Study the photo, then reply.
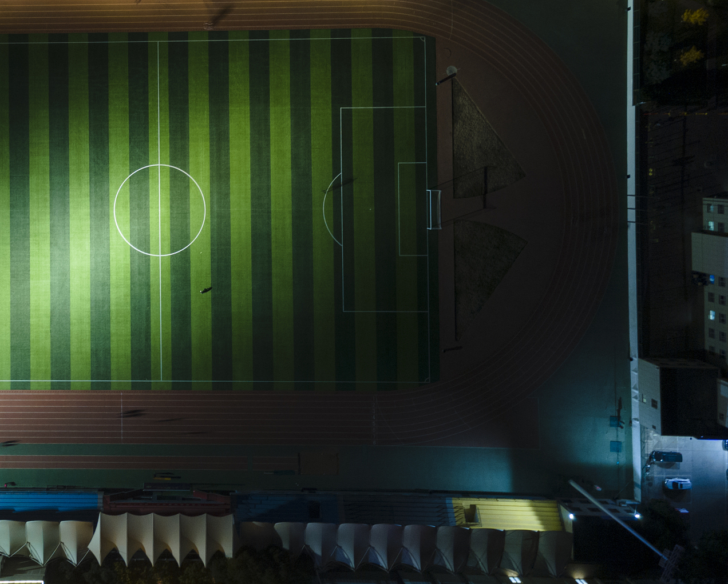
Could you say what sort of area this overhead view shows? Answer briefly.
sports ground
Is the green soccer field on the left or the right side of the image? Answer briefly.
left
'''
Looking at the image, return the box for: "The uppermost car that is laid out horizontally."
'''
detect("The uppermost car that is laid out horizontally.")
[651,451,679,464]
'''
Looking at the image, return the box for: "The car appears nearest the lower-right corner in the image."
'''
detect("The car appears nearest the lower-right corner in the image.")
[665,479,691,491]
